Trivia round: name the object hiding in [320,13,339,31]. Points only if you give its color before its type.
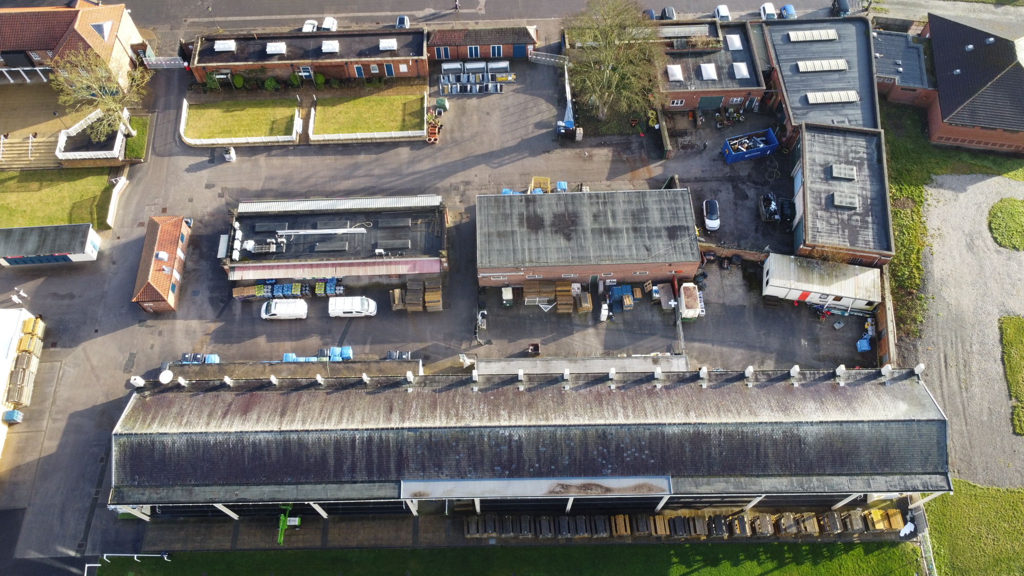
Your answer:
white car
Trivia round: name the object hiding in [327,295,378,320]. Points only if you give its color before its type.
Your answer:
white vehicle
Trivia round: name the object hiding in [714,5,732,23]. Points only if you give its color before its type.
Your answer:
white car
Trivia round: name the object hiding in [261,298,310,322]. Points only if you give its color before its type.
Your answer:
white vehicle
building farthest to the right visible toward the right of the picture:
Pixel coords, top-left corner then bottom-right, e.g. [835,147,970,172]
[921,12,1024,152]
